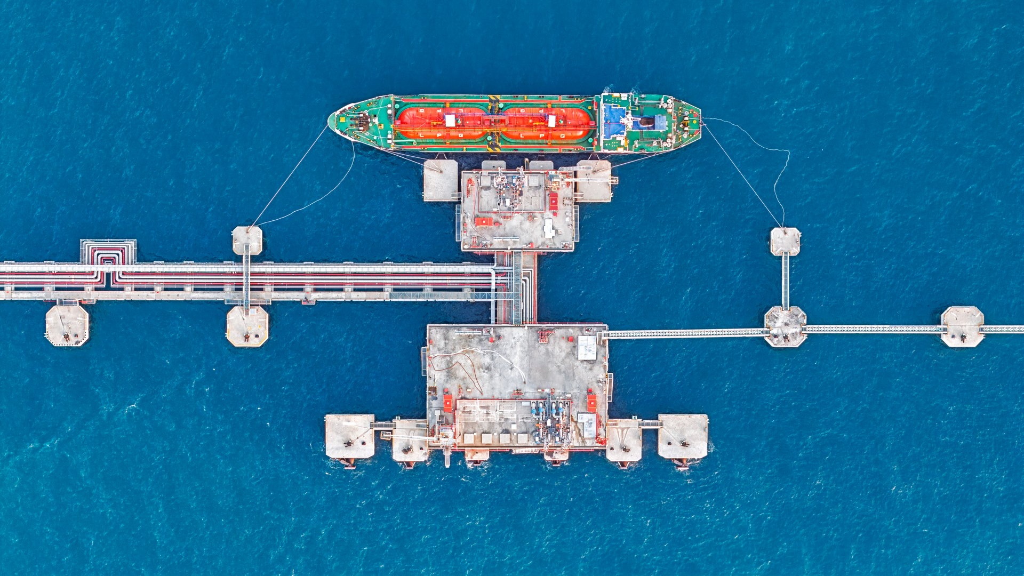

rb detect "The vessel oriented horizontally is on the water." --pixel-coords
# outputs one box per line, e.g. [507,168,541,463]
[327,92,707,158]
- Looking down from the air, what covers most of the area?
water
